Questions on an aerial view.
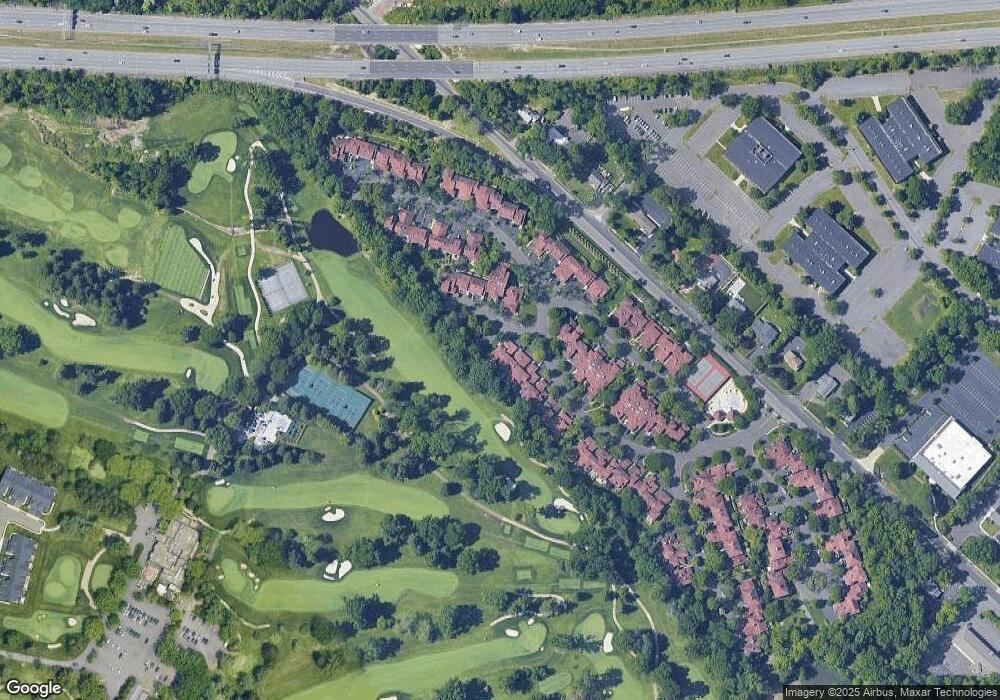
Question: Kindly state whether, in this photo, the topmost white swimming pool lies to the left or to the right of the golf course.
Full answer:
To the right of the golf course is where the topmost white swimming pool appears.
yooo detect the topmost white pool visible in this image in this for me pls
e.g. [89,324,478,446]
[704,378,747,419]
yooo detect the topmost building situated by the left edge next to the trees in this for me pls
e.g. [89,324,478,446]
[0,465,58,516]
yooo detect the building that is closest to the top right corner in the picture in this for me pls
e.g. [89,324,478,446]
[859,97,943,183]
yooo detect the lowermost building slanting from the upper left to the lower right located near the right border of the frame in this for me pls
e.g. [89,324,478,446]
[959,632,1000,681]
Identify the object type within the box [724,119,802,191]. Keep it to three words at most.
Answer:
building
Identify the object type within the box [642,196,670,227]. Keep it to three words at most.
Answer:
house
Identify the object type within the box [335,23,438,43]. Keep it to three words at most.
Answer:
bridge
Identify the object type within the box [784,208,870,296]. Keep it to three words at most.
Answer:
building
